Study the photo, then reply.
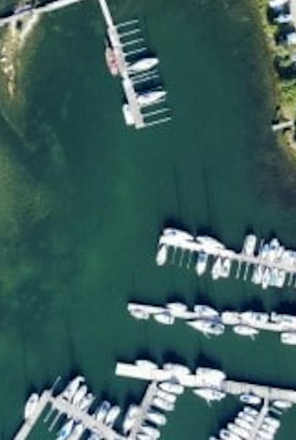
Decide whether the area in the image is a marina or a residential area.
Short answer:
marina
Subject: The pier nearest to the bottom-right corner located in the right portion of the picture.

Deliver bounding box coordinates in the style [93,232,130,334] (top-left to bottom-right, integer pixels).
[248,396,270,440]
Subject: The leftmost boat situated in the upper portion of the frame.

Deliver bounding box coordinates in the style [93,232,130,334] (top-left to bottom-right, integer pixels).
[106,49,119,78]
